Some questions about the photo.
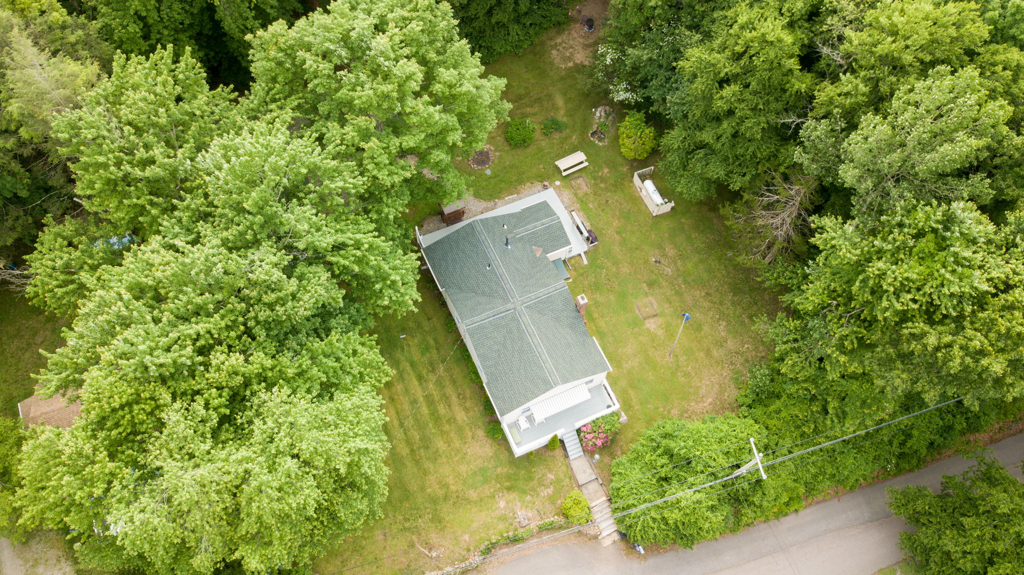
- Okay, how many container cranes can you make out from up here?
zero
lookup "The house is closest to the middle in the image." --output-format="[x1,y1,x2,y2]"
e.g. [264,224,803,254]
[419,188,619,462]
